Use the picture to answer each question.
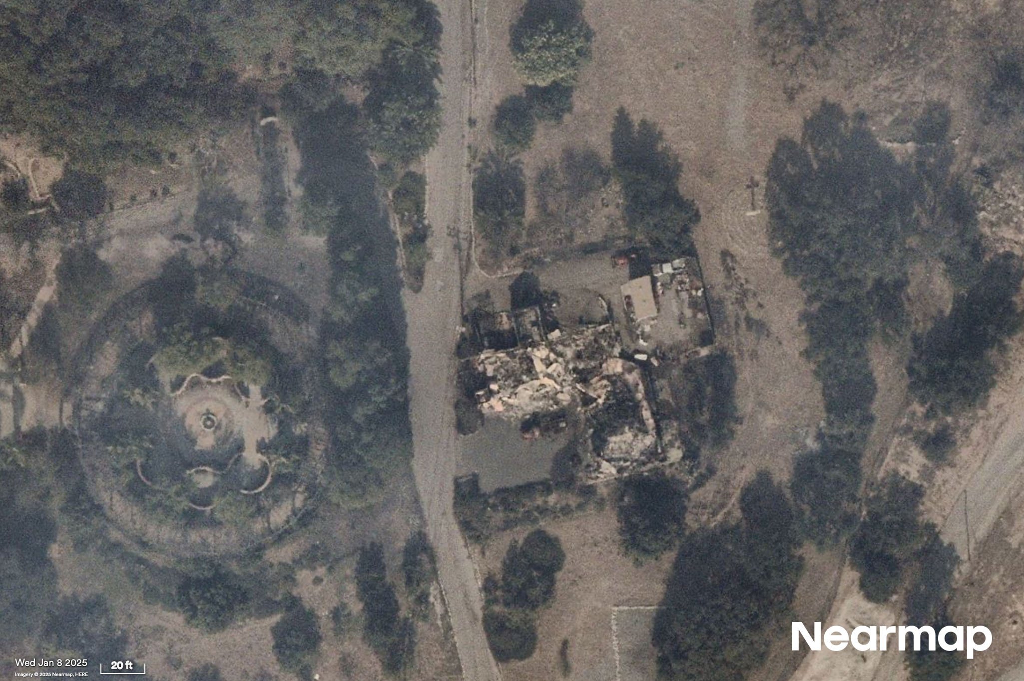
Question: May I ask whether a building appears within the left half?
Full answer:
No, there is no building within the left half.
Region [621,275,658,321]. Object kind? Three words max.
building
